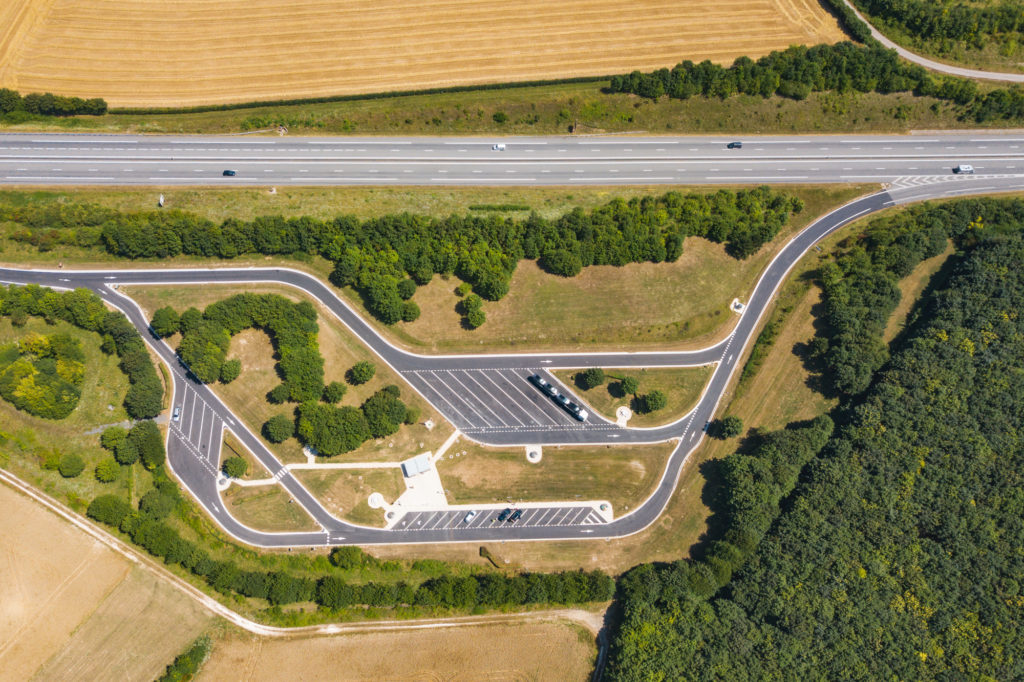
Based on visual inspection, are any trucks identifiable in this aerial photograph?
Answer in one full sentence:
Yes, a truck is visible in the scene.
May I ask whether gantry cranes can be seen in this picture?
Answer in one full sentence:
No, I can't see a single gantry crane in this photo.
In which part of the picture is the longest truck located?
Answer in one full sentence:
The longest truck sits in the center section of the image.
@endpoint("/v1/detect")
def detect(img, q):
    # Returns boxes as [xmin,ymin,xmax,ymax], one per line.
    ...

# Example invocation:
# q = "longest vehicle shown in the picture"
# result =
[536,375,590,421]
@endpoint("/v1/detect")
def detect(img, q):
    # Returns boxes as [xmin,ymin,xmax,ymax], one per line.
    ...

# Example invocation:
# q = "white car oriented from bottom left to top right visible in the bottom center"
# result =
[463,510,477,524]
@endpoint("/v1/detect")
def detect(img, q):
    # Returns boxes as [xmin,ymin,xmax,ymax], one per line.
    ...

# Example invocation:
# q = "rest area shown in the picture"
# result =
[0,189,894,548]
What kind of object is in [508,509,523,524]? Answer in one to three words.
car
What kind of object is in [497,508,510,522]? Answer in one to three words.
vehicle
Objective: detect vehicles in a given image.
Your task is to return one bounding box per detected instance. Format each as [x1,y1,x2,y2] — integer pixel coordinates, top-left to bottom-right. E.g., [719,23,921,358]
[569,400,582,412]
[536,375,590,421]
[508,509,523,524]
[463,510,477,524]
[491,142,506,151]
[223,170,236,176]
[497,508,510,522]
[955,165,973,174]
[172,407,181,422]
[728,143,741,149]
[558,392,571,404]
[548,383,561,395]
